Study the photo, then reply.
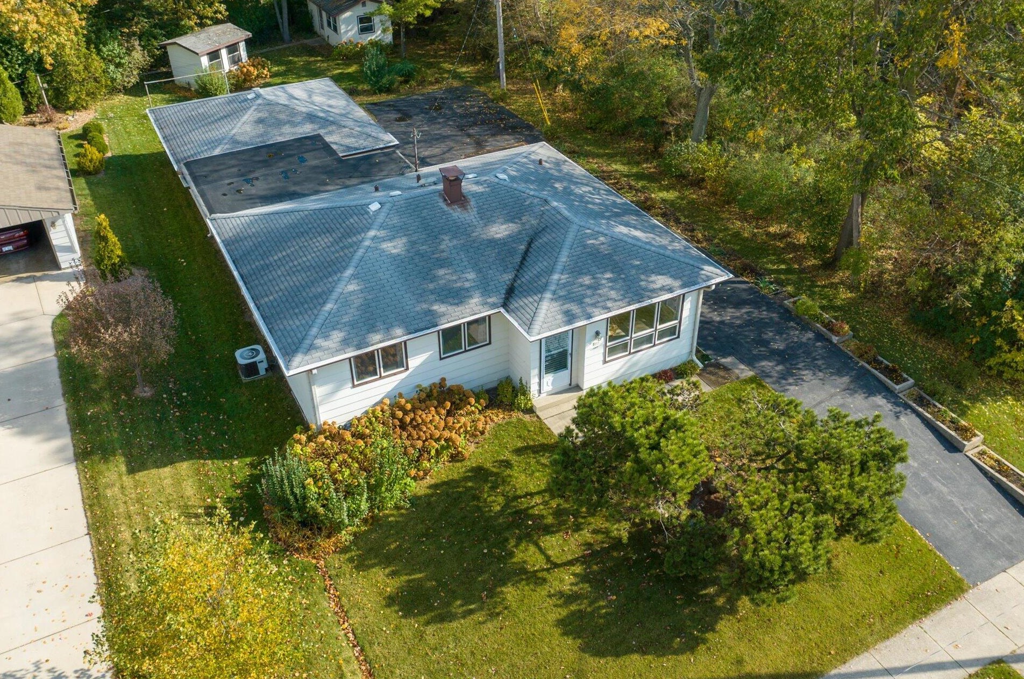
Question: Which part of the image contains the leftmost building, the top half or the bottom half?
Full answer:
It is in the top half that the leftmost building appears.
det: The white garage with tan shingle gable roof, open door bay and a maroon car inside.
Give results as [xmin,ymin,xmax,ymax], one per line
[0,123,83,283]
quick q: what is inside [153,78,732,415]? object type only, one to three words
house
